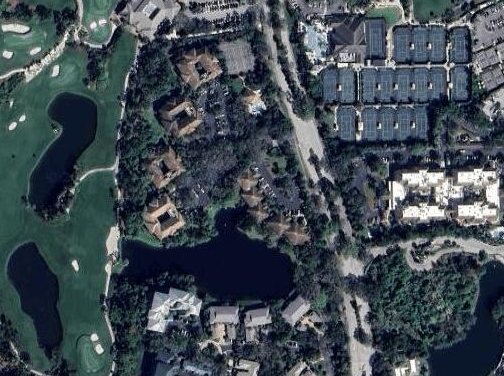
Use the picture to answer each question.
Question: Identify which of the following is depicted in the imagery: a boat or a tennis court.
tennis court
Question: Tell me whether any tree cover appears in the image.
Yes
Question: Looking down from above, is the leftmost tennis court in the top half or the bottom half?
top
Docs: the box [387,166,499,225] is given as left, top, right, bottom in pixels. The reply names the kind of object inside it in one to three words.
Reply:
building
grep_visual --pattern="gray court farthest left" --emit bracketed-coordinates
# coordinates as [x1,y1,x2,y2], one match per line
[224,42,255,75]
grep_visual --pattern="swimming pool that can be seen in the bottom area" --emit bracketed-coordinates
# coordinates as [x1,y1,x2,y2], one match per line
[490,227,504,240]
